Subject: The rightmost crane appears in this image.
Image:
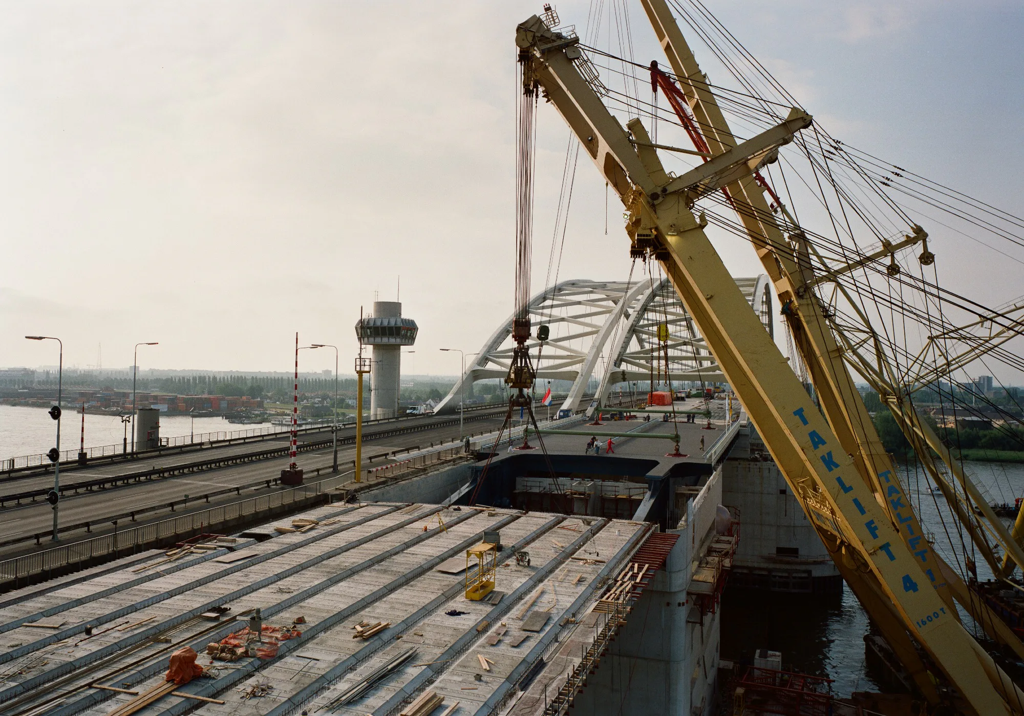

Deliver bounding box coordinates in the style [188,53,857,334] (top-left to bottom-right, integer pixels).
[780,206,1024,579]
